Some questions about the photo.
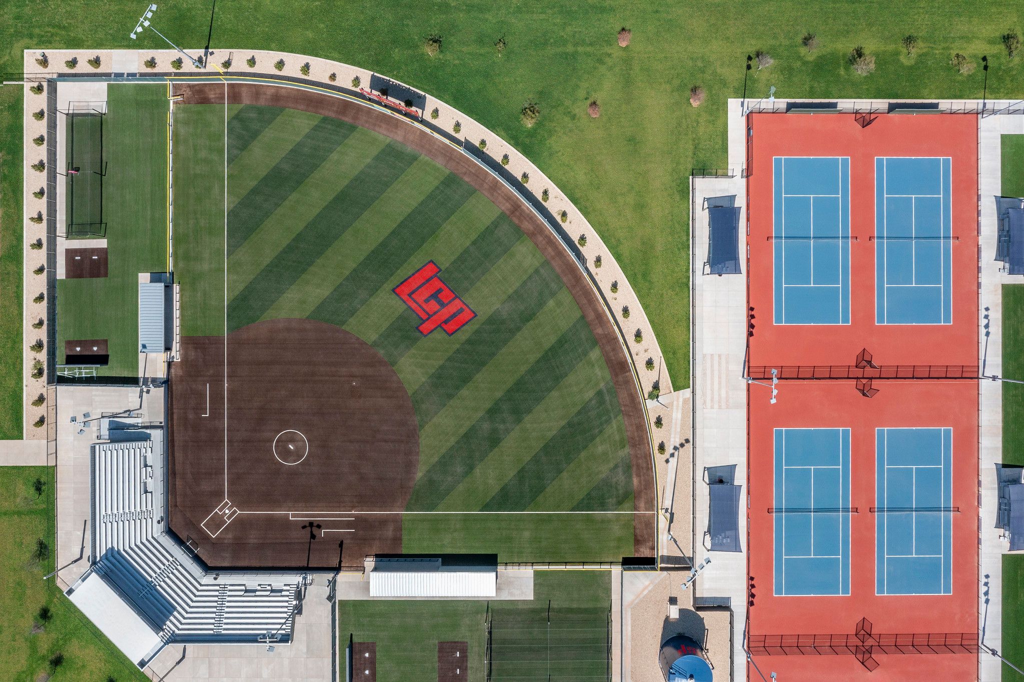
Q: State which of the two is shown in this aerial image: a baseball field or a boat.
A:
baseball field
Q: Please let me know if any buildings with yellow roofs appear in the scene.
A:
No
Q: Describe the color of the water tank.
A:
blue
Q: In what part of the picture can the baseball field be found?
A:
center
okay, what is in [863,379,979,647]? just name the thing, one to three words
tennis court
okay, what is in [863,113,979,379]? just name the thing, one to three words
tennis court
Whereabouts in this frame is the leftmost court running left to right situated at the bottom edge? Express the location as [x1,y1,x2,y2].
[746,647,863,682]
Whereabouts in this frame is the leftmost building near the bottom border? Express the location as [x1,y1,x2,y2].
[64,552,184,669]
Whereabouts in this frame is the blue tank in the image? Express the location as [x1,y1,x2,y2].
[658,634,714,682]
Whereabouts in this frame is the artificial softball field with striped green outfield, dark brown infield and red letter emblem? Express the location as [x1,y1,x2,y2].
[167,82,656,570]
